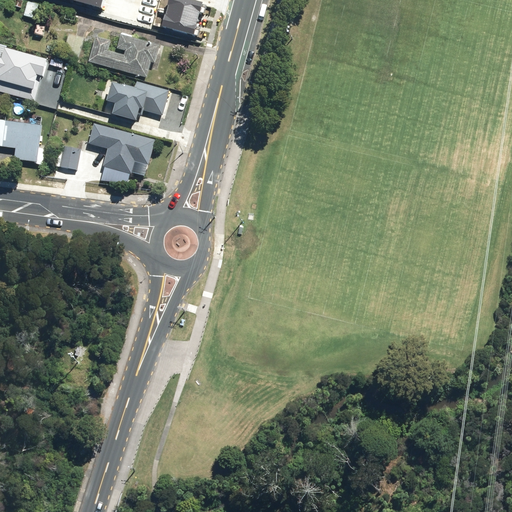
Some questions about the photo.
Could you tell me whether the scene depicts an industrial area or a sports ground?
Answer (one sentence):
It's a sports ground.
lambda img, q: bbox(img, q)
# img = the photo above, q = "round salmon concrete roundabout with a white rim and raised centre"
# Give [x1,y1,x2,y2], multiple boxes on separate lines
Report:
[164,226,198,260]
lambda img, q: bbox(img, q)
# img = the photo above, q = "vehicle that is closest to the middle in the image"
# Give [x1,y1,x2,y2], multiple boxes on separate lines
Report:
[169,192,181,208]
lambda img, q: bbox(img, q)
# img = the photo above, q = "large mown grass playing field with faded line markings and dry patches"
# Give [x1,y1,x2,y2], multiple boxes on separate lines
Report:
[156,0,512,492]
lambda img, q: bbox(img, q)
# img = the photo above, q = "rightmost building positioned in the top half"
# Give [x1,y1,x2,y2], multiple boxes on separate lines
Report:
[162,0,206,38]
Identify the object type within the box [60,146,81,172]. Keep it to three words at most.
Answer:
building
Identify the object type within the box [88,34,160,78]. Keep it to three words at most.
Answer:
house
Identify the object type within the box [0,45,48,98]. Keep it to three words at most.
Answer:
house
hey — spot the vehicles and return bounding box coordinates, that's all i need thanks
[258,2,268,22]
[142,0,157,6]
[47,219,62,226]
[139,6,154,14]
[169,192,181,208]
[54,72,62,88]
[178,95,188,110]
[94,501,104,512]
[92,153,106,167]
[138,15,152,24]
